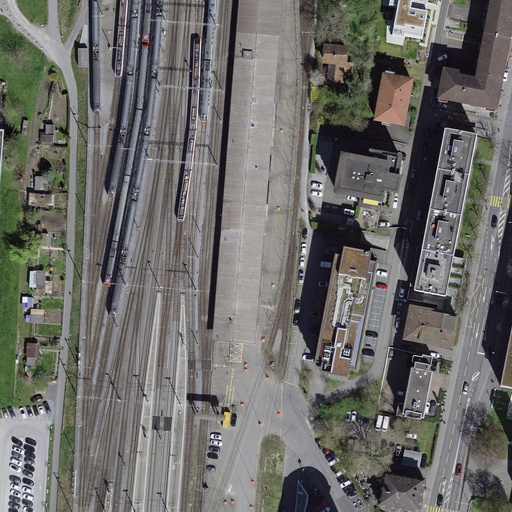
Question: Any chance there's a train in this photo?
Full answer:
Yes, this view includes a train.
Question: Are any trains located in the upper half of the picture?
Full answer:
Yes, I can see a train in the upper half of the picture.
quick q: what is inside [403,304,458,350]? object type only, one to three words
house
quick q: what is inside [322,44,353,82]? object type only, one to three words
house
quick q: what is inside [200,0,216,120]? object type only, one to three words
train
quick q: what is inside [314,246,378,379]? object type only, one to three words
building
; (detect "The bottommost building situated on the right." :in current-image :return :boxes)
[378,473,425,512]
